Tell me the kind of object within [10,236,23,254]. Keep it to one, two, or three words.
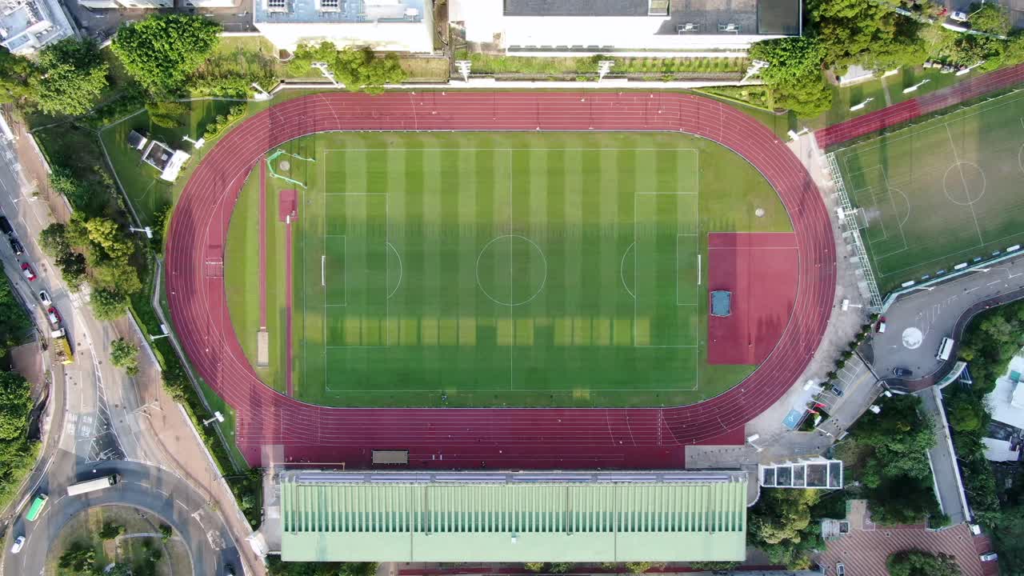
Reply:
vehicle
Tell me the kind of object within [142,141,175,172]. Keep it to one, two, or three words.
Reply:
shed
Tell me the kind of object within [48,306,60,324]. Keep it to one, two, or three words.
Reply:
vehicle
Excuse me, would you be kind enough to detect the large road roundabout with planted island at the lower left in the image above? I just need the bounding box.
[1,461,239,576]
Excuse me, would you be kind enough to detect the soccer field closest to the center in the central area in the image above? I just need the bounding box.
[304,140,706,398]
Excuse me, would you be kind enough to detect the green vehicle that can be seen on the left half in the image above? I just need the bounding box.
[27,492,49,521]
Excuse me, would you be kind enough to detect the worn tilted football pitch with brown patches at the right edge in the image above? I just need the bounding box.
[825,87,1024,291]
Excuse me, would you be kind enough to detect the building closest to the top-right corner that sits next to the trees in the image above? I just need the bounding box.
[836,60,877,85]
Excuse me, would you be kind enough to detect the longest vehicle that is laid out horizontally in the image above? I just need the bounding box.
[66,475,119,495]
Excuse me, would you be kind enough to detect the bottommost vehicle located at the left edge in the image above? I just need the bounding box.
[13,536,25,552]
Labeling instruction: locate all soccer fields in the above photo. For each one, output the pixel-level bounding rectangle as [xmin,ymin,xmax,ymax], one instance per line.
[304,140,706,398]
[825,87,1024,291]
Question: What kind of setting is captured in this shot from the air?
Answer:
sports ground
